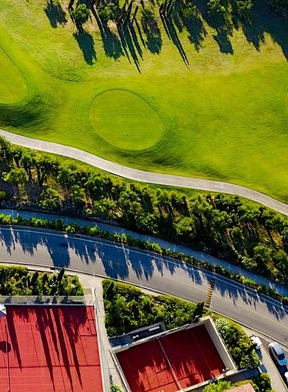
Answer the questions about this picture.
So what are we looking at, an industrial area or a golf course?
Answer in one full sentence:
This looks like a golf course.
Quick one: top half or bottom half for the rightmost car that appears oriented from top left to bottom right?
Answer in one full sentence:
The rightmost car that appears oriented from top left to bottom right is in the bottom half of the image.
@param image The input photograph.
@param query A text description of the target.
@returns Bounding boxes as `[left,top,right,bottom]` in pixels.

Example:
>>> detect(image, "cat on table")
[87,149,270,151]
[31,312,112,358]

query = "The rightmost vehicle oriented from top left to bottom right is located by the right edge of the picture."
[266,340,288,367]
